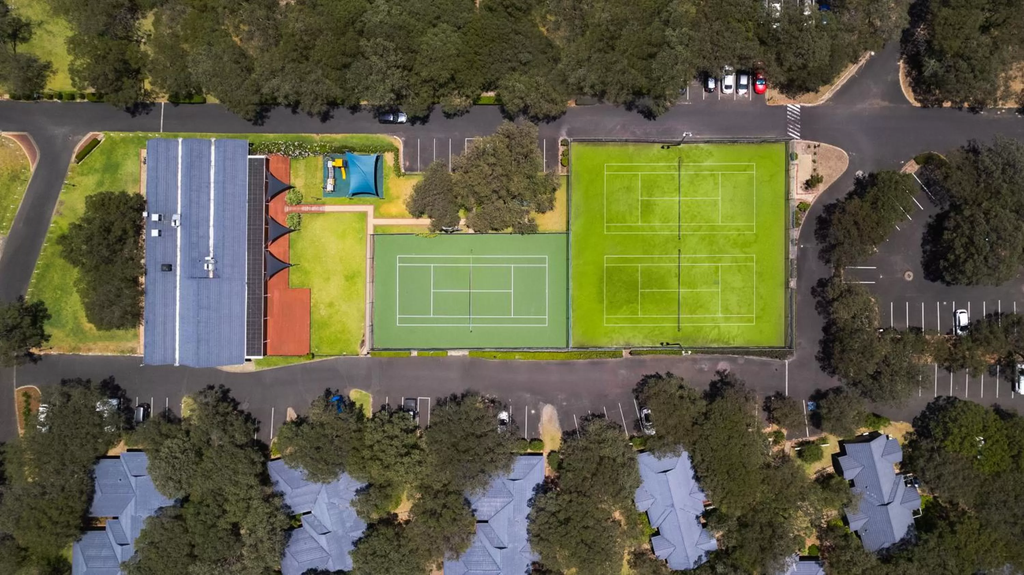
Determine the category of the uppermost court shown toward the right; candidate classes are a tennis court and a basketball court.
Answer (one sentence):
The uppermost court shown toward the right appears to be a tennis court.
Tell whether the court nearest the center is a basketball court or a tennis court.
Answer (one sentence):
It turns out the court nearest the center is a tennis court.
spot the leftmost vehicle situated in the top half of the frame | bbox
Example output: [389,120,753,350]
[378,110,408,125]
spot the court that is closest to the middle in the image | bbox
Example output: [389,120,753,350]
[374,234,569,349]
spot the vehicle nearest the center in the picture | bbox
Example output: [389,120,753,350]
[496,411,510,437]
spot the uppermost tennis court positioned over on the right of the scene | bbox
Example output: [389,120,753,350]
[571,143,785,244]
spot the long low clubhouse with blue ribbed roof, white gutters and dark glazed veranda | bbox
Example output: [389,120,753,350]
[143,138,274,366]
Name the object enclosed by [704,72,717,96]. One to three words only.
vehicle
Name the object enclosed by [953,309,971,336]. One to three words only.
car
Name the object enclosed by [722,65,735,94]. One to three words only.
vehicle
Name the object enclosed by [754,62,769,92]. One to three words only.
car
